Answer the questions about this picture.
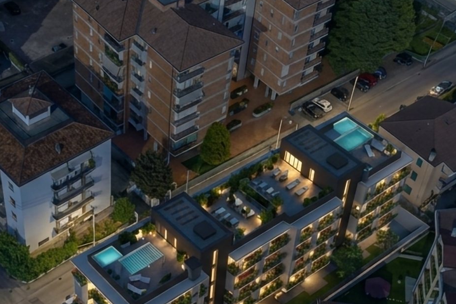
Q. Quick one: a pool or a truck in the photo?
pool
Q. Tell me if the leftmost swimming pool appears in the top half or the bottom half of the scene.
bottom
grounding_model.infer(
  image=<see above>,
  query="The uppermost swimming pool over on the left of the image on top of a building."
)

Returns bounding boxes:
[92,243,125,268]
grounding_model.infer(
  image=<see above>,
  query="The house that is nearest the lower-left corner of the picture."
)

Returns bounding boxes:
[0,71,115,247]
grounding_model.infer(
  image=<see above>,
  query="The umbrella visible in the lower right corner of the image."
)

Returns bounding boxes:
[363,278,389,299]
